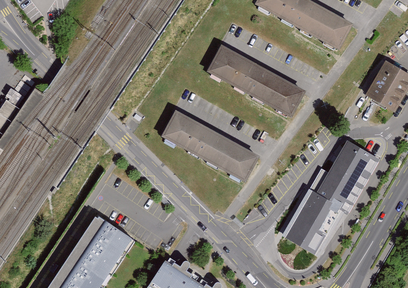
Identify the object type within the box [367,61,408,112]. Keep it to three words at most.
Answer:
building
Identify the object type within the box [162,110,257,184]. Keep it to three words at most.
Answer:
building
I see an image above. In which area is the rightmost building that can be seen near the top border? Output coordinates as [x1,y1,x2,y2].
[257,0,352,52]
